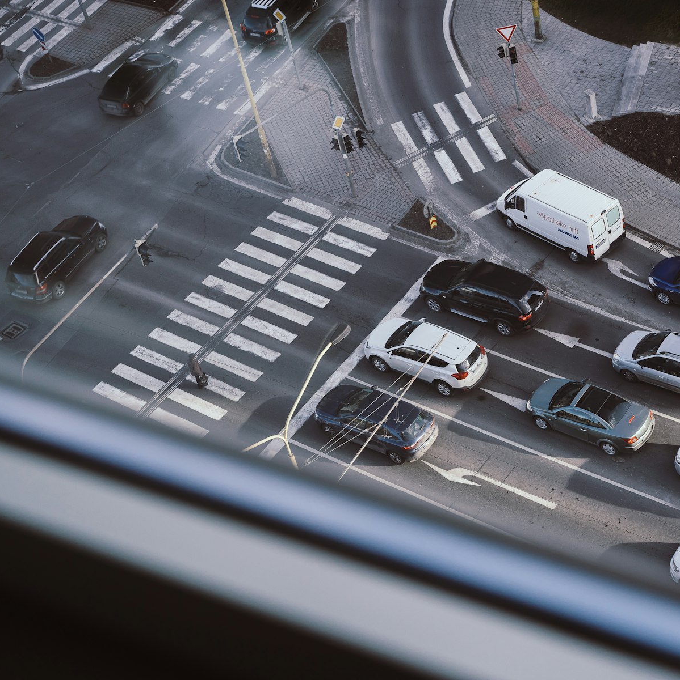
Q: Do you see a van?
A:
Yes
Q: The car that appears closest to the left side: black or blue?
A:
black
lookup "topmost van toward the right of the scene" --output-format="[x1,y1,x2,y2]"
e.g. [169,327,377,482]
[500,163,632,263]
